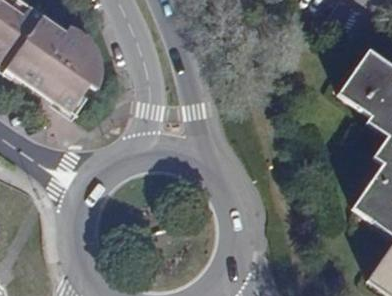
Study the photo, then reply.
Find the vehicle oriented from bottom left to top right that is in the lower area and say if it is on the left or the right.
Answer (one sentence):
The vehicle oriented from bottom left to top right that is in the lower area appears in the left half of the scene.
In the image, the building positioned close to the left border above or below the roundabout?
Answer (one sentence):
The building positioned close to the left border is located above the roundabout in this view.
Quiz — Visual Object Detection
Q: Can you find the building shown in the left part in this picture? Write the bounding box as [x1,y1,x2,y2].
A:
[0,0,104,126]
